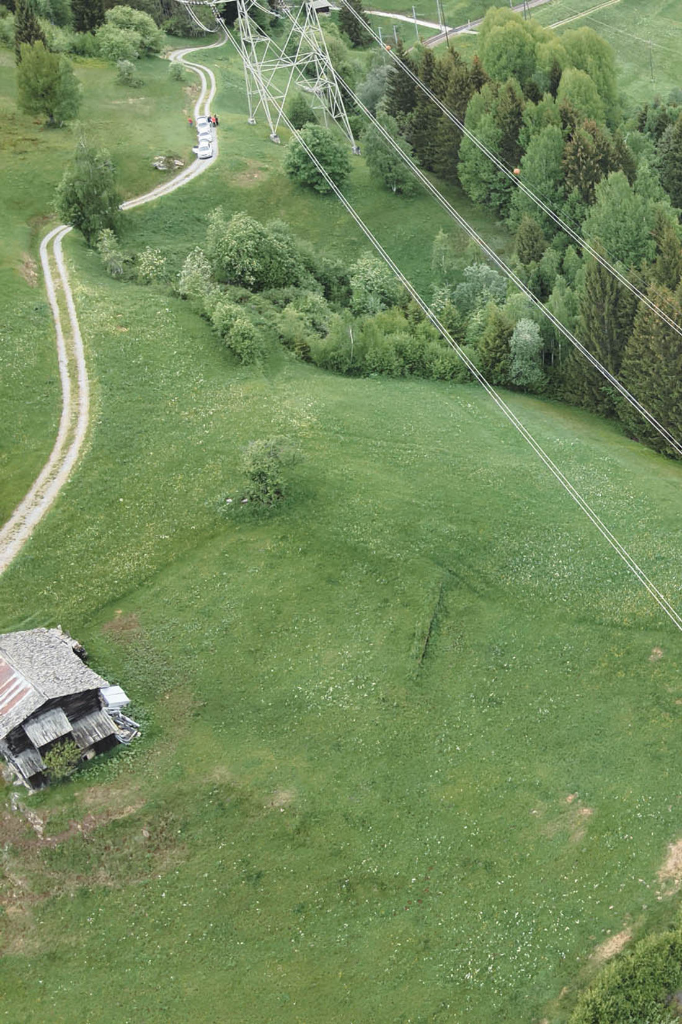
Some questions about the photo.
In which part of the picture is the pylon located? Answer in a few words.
top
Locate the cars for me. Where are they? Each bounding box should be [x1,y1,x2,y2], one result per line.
[190,138,212,159]
[195,110,216,127]
[195,124,213,140]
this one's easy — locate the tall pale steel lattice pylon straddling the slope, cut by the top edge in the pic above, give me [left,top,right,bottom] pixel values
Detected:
[192,0,361,150]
